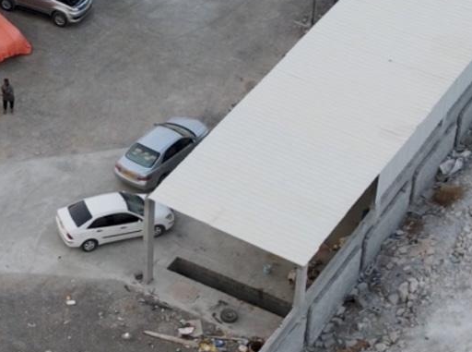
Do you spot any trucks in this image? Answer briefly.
No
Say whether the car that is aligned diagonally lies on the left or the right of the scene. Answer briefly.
left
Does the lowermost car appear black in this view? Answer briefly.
No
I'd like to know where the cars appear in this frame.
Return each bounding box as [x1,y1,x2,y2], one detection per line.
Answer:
[60,192,180,252]
[116,121,210,193]
[0,0,94,27]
